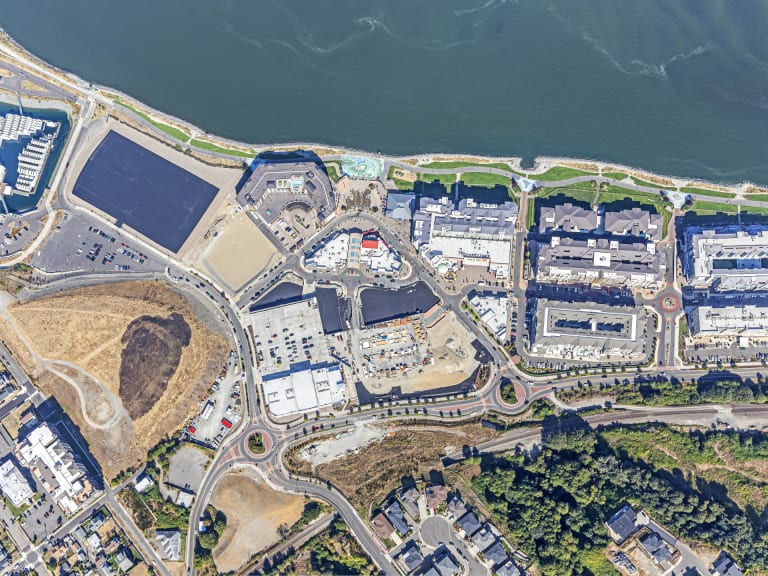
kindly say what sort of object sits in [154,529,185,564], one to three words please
building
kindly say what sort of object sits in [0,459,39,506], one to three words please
building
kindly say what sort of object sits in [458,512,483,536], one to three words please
house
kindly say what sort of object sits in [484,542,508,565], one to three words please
house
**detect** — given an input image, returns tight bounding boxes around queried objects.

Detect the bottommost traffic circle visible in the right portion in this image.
[489,371,532,415]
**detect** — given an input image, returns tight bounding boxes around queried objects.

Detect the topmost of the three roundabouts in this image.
[654,284,687,317]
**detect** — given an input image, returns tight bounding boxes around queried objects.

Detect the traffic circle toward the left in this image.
[236,422,278,464]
